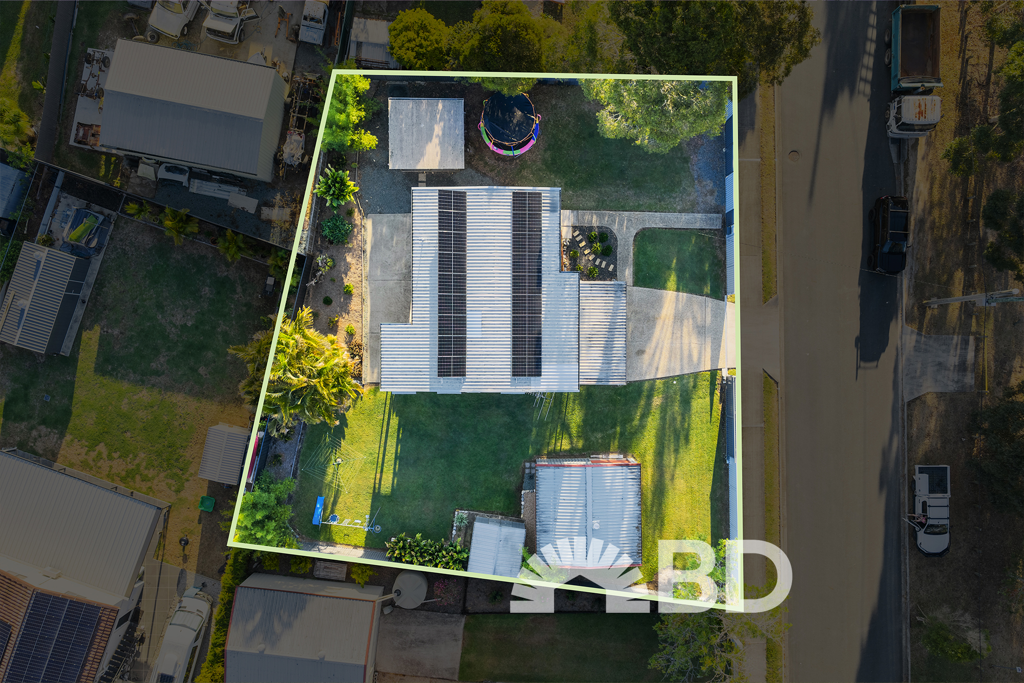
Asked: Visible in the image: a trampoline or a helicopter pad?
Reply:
trampoline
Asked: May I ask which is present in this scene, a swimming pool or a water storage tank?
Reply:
water storage tank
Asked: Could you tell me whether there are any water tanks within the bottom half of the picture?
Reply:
Yes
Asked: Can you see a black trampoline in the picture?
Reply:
Yes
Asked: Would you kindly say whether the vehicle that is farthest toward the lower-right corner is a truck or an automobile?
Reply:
truck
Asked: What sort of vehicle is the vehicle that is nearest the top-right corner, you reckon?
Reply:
truck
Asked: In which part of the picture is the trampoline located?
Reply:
top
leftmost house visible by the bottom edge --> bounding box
[0,453,179,683]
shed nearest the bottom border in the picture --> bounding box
[225,572,382,683]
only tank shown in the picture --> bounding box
[376,568,439,612]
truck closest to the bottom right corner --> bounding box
[902,464,956,555]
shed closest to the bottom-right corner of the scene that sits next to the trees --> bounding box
[535,458,643,569]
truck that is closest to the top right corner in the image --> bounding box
[874,7,943,138]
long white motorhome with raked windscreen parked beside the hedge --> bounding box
[141,585,210,683]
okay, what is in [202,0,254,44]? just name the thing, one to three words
car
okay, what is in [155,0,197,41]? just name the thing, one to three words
truck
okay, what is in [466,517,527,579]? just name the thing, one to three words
shed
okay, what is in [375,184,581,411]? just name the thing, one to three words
house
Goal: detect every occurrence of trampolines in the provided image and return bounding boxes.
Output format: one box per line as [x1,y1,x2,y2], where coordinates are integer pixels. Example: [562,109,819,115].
[479,91,542,165]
